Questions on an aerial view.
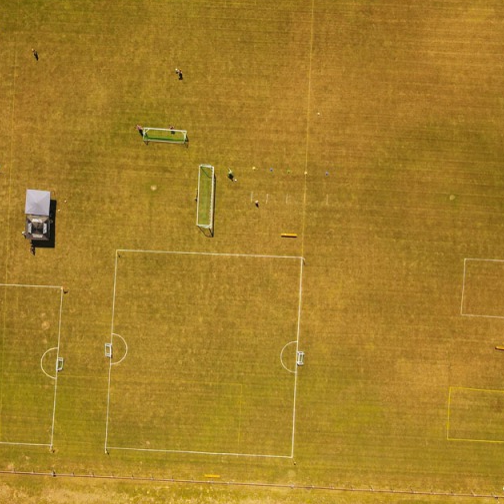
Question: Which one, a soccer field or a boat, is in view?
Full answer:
This aerial view contains a soccer field.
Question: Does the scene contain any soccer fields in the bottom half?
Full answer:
Yes, a soccer field can be seen in the bottom half.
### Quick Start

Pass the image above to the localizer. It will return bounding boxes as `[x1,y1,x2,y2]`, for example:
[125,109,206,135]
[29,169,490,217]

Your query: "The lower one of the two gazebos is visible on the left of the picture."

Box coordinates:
[26,215,51,239]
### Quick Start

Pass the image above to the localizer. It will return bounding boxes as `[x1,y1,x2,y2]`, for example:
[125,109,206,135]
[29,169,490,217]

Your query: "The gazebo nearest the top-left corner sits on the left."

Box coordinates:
[25,189,52,215]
